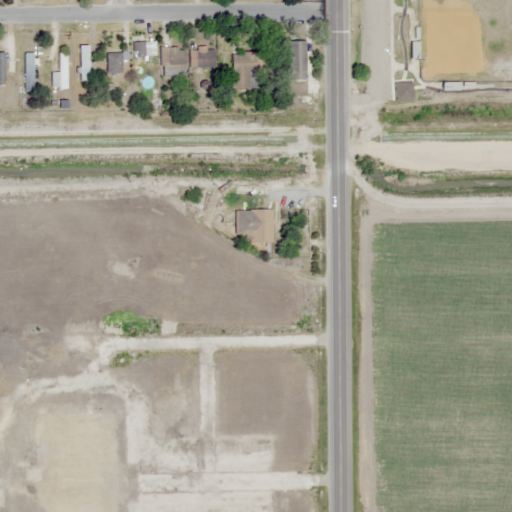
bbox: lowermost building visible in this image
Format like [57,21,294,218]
[236,210,274,243]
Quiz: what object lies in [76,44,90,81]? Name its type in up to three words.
house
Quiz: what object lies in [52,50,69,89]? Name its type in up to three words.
house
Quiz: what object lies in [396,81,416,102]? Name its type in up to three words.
building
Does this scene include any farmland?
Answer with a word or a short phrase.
Yes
